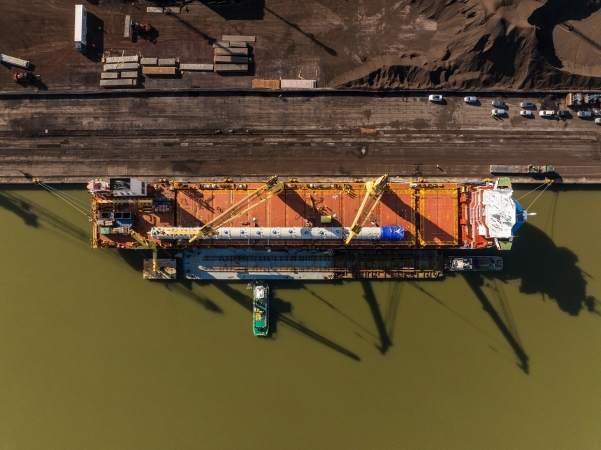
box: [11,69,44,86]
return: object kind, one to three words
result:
work vehicle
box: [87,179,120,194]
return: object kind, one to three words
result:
boat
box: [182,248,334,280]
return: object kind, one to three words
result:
ship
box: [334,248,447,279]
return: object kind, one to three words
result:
ship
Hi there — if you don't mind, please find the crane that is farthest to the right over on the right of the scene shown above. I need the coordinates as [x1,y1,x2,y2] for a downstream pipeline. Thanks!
[344,172,394,249]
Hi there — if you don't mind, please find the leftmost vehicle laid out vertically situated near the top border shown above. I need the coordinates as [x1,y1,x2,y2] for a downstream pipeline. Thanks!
[75,5,89,56]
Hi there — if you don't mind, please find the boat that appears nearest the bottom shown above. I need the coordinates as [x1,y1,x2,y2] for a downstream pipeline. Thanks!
[252,285,269,339]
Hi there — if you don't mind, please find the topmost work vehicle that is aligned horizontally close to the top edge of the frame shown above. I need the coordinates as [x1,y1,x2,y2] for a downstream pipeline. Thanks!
[123,17,158,36]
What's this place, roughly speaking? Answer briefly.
port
